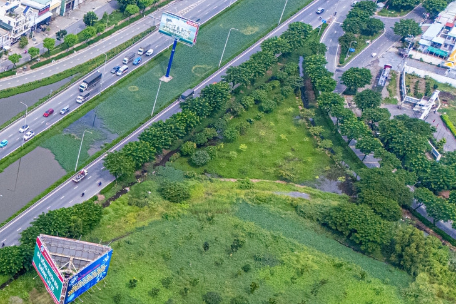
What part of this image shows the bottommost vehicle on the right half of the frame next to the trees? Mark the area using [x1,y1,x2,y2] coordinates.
[376,66,393,88]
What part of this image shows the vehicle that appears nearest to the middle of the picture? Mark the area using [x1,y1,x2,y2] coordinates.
[177,85,197,102]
